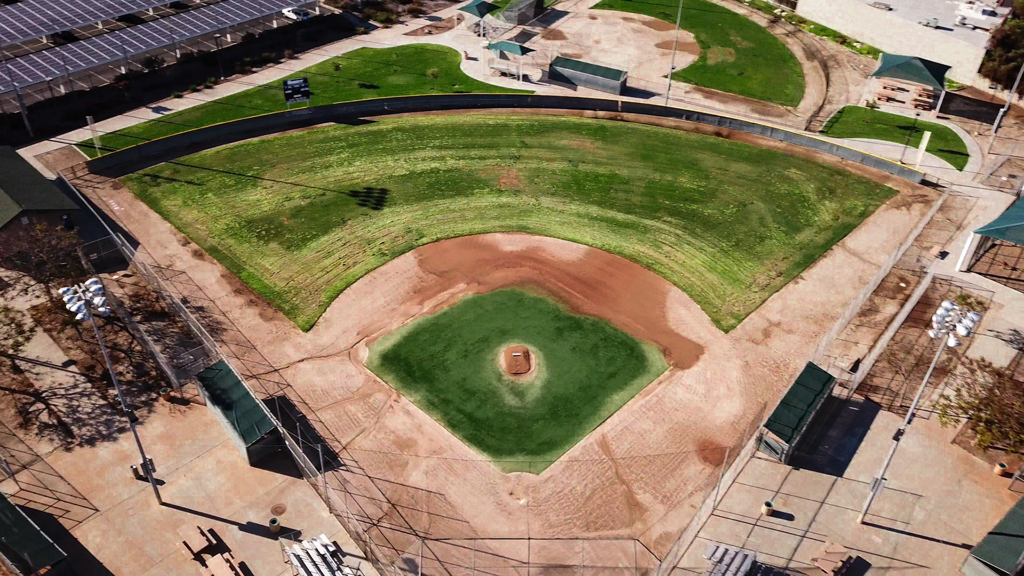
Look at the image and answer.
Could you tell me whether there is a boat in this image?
No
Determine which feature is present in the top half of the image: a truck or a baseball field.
baseball field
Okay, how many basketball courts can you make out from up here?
0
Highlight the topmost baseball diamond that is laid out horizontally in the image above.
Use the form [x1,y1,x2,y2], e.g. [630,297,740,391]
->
[512,0,811,128]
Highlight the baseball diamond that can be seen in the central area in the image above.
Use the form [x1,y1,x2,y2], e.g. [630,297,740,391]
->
[64,109,944,576]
